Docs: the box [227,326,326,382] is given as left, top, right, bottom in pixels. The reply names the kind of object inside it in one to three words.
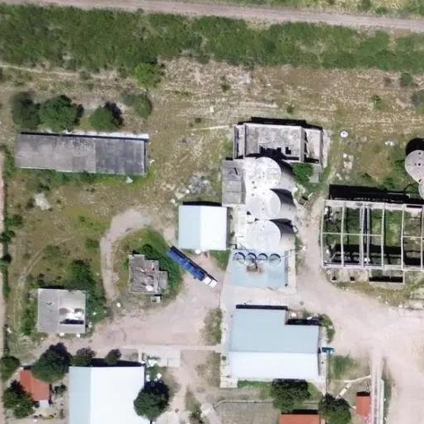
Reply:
shed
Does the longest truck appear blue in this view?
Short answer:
Yes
